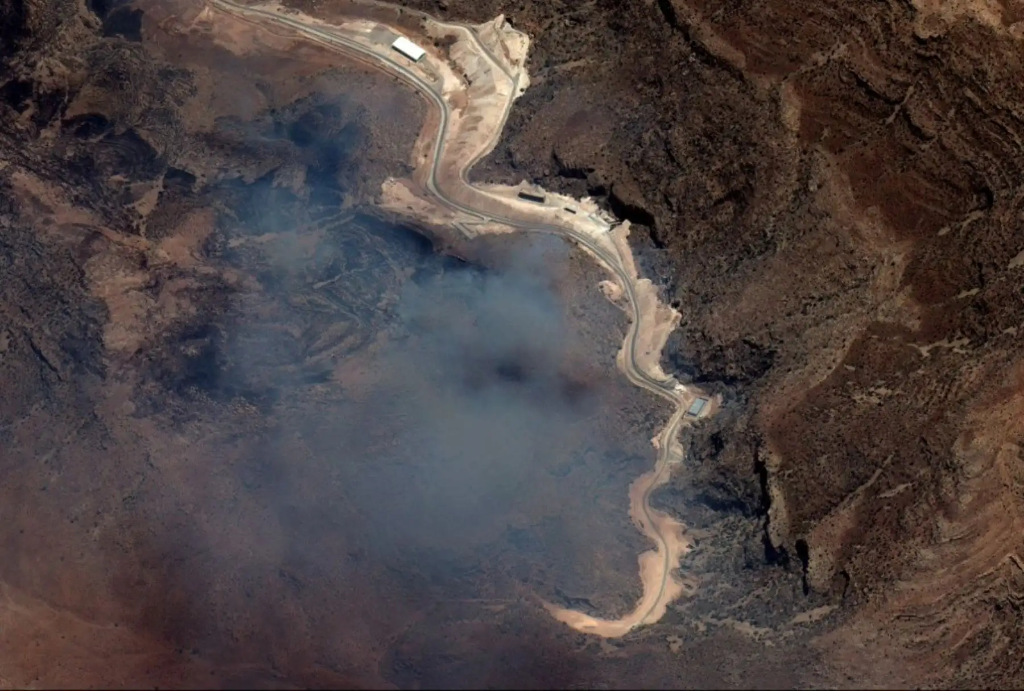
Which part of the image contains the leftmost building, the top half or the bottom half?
top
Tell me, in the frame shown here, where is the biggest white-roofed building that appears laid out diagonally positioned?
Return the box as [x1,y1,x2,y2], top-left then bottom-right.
[393,36,424,60]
